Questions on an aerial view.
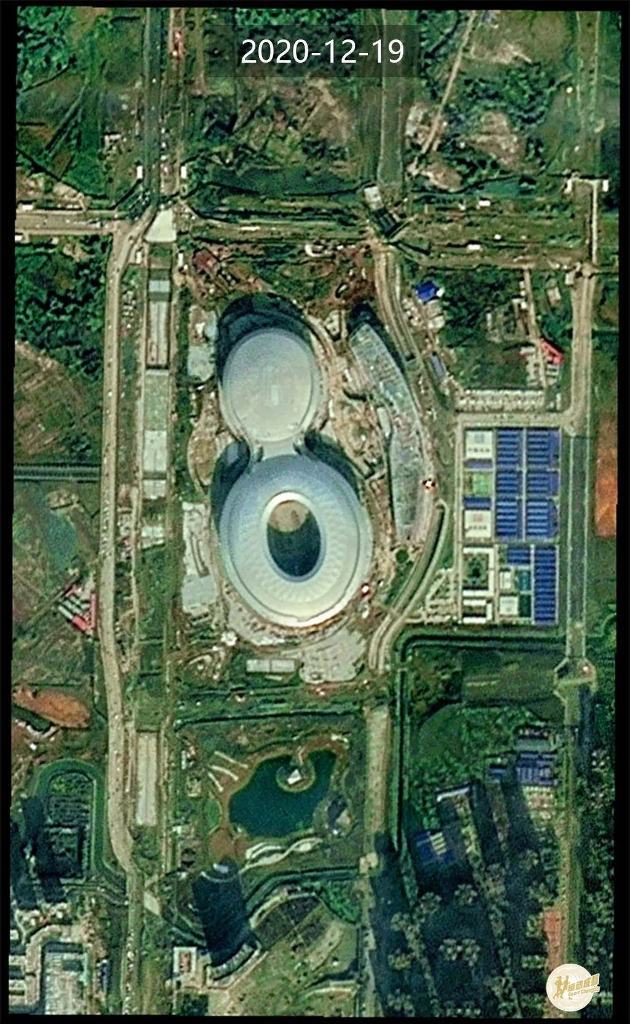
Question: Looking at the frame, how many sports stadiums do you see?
2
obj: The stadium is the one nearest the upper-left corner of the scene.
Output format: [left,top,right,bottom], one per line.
[220,307,324,442]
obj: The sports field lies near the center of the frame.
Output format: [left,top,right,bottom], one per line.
[266,498,322,577]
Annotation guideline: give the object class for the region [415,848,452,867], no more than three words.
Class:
shed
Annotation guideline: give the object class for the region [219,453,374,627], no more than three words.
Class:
stadium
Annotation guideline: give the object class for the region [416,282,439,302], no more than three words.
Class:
house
